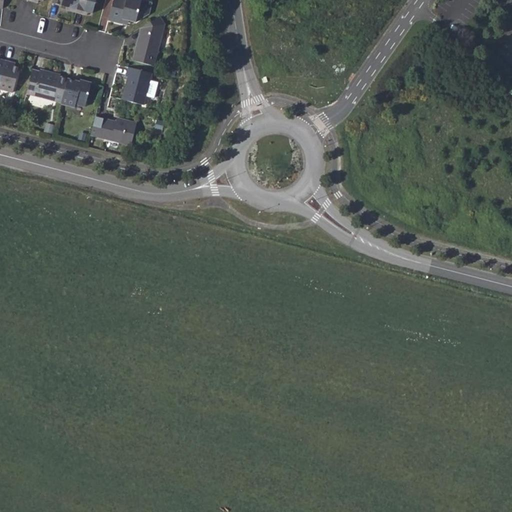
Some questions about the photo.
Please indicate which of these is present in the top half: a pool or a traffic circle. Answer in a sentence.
Looking in the top half, you will find a traffic circle.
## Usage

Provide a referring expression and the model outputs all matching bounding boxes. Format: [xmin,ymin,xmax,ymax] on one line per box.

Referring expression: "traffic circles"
[226,113,325,212]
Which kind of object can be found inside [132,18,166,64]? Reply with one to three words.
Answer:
house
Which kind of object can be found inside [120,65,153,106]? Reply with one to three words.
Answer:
house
